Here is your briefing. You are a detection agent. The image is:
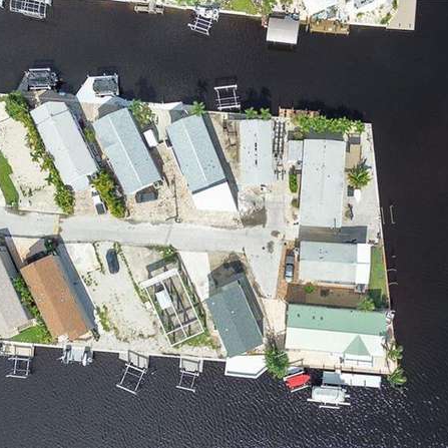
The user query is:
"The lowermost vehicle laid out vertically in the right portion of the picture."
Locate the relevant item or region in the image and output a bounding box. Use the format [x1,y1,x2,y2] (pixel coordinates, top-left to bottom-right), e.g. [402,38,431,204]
[283,255,296,284]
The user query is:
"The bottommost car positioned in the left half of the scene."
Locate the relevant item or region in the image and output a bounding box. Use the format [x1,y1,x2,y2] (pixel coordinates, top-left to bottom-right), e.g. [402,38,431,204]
[105,249,120,274]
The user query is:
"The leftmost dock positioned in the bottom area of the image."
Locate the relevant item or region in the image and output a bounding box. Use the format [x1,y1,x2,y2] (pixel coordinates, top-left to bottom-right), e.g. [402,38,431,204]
[4,343,37,357]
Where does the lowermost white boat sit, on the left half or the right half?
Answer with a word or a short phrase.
right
